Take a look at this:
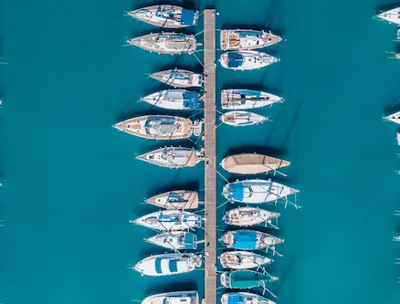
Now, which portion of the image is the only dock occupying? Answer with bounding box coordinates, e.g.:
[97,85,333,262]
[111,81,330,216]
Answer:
[203,9,216,304]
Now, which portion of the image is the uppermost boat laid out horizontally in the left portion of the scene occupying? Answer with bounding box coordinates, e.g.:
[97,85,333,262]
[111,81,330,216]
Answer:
[118,3,202,30]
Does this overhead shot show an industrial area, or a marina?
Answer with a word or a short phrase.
marina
